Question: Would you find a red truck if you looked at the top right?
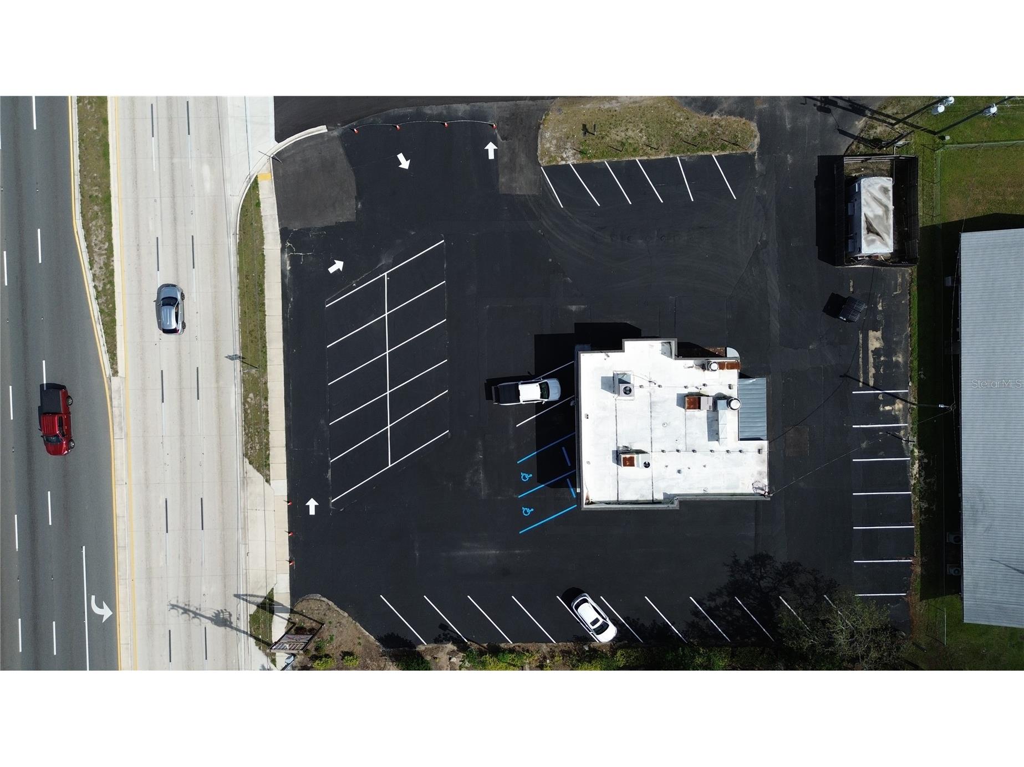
No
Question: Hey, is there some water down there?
No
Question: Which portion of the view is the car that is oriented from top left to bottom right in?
bottom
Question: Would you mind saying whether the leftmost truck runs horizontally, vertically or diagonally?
vertically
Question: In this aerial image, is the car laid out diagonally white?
Yes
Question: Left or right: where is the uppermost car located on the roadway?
left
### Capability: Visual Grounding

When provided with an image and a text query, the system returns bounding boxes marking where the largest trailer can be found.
[847,150,895,256]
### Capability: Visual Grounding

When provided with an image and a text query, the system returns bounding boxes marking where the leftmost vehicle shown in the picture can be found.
[41,389,76,456]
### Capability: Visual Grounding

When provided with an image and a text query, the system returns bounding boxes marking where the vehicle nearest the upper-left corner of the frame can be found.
[155,284,186,336]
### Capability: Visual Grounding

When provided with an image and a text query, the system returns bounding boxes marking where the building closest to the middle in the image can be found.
[574,339,769,510]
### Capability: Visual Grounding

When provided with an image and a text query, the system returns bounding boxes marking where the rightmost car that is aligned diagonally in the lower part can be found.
[572,592,617,644]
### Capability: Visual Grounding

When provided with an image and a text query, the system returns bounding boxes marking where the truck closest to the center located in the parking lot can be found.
[490,377,562,405]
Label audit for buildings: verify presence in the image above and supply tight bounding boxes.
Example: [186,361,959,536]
[574,339,769,510]
[957,228,1024,629]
